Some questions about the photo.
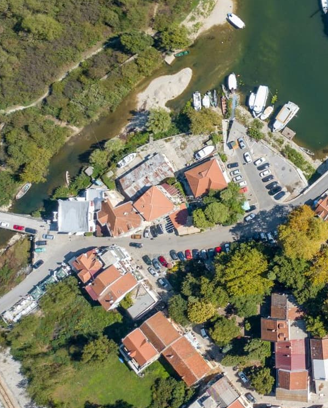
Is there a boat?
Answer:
Yes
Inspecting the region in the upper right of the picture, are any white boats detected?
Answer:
Yes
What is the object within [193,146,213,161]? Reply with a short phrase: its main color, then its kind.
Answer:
white boat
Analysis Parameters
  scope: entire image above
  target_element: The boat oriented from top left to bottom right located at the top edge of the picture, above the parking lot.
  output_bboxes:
[225,11,243,27]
